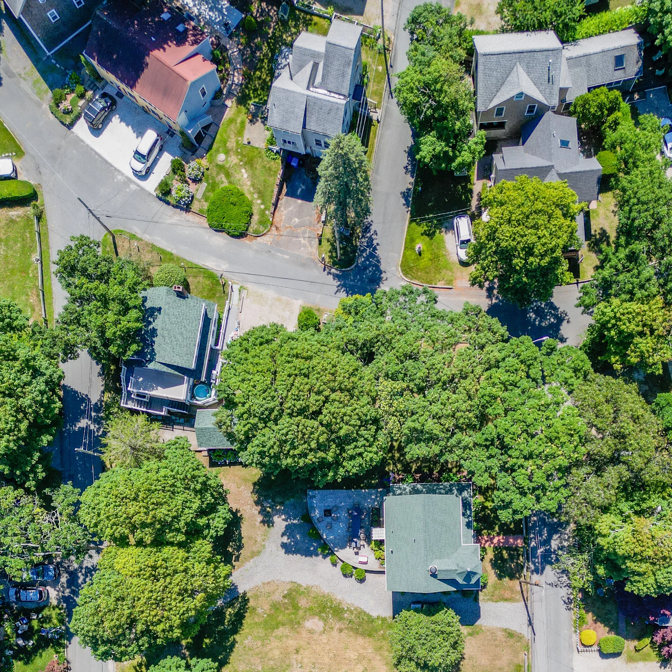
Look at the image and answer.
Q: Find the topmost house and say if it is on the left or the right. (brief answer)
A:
left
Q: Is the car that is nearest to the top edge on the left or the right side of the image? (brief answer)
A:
left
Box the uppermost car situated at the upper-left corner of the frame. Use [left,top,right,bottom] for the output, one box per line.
[80,90,118,132]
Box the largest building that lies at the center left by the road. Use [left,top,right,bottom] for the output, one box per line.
[117,272,231,417]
